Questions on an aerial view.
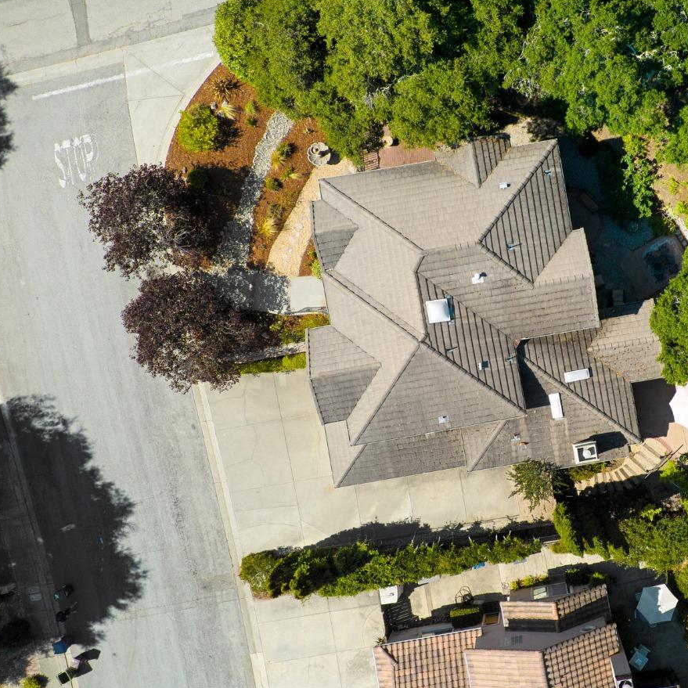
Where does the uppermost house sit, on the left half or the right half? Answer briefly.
right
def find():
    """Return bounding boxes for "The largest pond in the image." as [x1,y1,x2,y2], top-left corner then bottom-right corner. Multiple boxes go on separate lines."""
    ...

[630,240,684,291]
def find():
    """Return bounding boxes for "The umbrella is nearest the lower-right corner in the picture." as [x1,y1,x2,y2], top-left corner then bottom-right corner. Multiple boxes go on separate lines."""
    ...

[635,581,675,623]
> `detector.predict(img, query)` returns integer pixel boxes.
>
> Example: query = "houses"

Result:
[372,568,678,688]
[305,133,667,490]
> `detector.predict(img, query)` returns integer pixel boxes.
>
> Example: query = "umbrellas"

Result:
[635,581,675,623]
[668,390,688,428]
